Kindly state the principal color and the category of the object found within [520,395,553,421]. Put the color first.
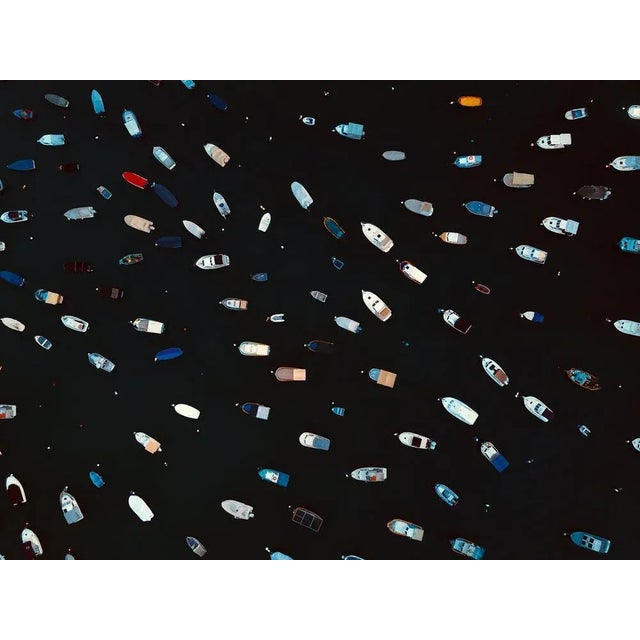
white boat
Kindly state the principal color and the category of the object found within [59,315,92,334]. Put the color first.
white boat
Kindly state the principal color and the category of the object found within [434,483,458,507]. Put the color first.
blue boat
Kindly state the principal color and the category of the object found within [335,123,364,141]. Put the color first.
blue boat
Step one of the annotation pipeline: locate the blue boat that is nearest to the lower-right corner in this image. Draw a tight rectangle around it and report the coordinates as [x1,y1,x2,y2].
[569,531,610,552]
